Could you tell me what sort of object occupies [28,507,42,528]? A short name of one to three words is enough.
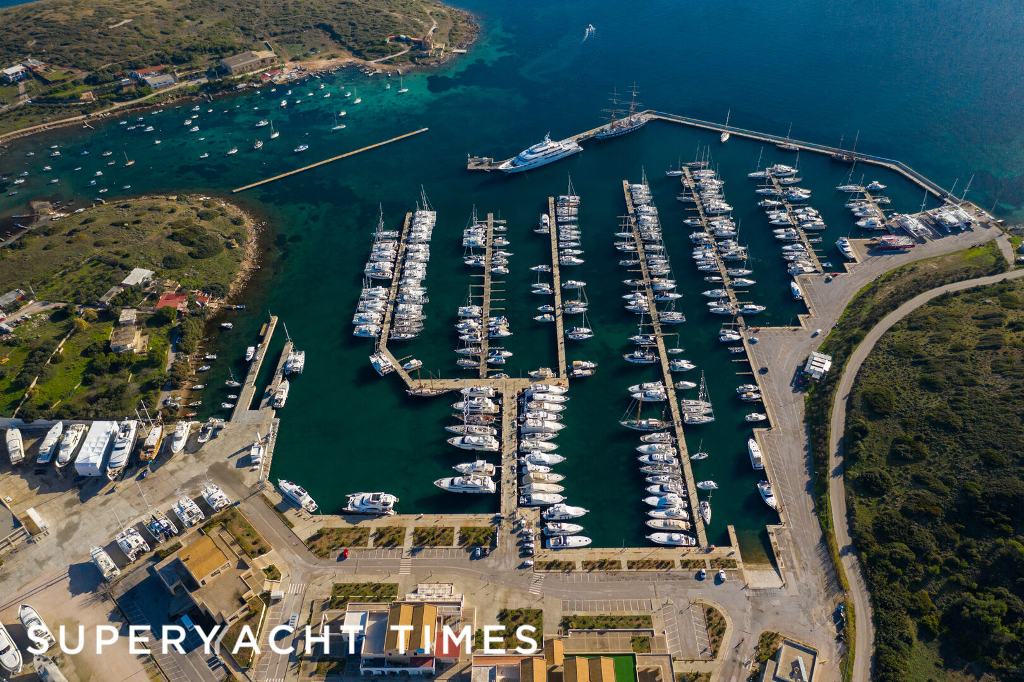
vehicle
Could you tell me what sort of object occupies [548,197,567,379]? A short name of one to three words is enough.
pier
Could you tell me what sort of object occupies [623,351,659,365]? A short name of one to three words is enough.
boat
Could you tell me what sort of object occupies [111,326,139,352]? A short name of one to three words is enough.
house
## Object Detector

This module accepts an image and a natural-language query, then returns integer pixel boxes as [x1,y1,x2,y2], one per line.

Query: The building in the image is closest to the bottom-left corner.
[0,502,34,552]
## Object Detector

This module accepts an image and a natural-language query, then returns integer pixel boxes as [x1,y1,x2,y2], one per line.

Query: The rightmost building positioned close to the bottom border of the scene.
[762,639,819,682]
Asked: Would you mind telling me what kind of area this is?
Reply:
port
